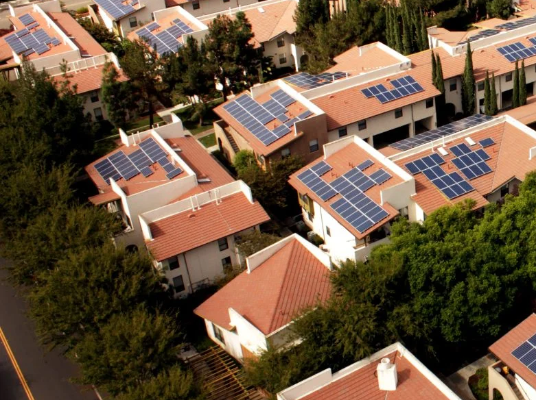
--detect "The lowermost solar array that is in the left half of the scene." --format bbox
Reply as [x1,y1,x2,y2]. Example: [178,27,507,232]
[94,138,194,182]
